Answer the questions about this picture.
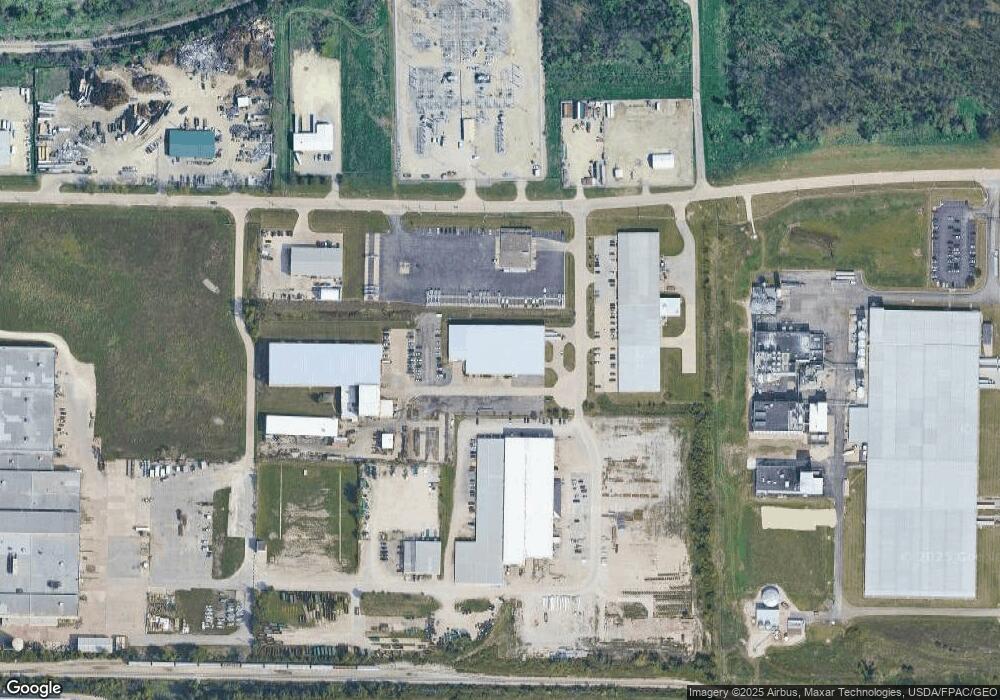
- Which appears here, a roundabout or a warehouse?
warehouse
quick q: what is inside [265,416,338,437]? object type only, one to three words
shed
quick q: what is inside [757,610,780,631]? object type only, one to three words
building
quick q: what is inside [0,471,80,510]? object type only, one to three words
building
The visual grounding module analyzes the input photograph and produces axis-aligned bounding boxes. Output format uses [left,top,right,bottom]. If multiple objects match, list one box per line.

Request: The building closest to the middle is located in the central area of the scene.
[448,324,544,375]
